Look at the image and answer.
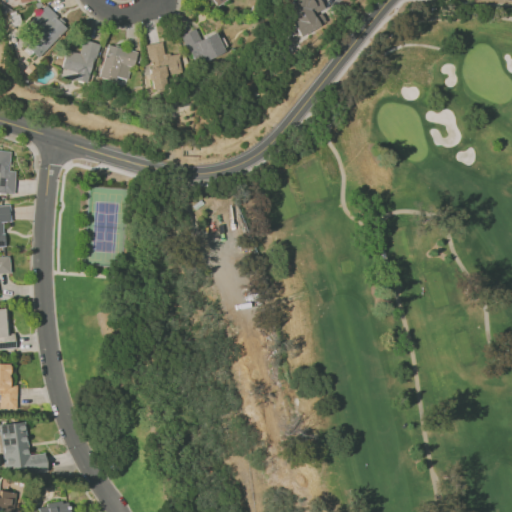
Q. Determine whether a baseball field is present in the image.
No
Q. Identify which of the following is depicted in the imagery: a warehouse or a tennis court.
tennis court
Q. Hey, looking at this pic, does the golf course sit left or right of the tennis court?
on the right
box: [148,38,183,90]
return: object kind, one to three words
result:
house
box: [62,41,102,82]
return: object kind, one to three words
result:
house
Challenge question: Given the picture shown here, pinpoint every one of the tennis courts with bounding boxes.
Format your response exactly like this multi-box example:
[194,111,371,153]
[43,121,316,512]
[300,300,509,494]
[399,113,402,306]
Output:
[86,187,126,267]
